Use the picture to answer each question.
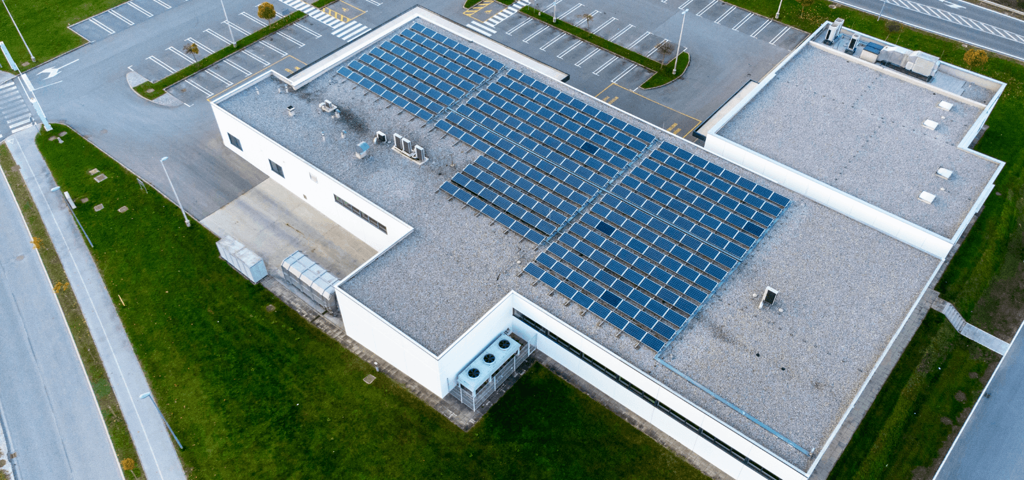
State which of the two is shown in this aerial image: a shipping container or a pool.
shipping container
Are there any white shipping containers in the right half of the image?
No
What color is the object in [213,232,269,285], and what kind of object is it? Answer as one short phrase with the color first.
white shipping container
